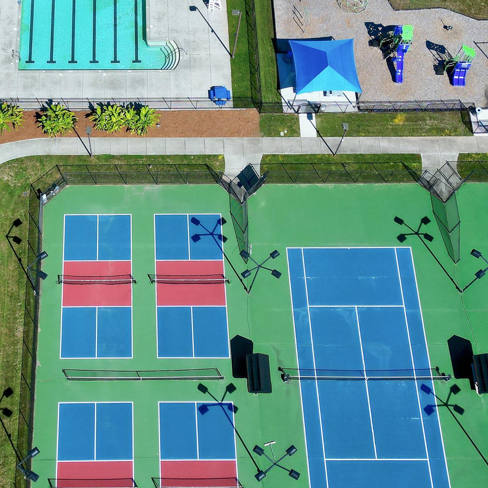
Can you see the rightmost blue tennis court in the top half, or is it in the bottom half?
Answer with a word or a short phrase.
bottom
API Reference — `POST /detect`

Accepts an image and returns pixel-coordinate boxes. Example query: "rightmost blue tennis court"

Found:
[287,246,450,488]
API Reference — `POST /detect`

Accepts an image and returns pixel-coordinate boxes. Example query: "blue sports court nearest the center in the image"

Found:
[154,213,230,358]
